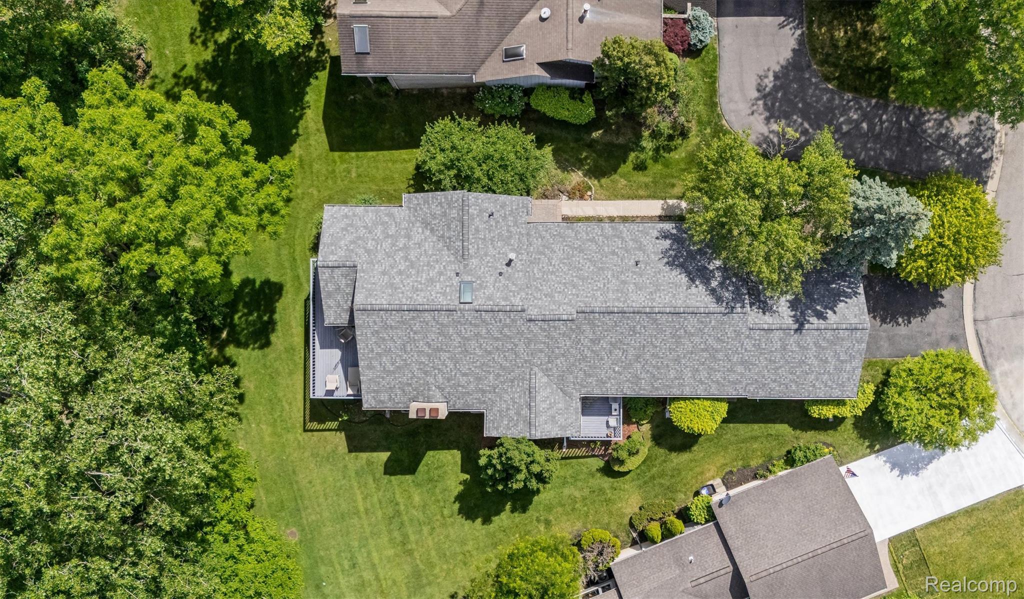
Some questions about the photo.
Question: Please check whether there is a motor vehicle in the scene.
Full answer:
No, the frame has no motor vehicle in it.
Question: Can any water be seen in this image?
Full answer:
No, there's no water in this view.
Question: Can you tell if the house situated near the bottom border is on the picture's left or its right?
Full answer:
The house situated near the bottom border is on the right side of the image.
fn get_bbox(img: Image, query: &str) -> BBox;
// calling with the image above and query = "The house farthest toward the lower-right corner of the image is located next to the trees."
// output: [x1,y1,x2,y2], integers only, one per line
[580,453,886,599]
